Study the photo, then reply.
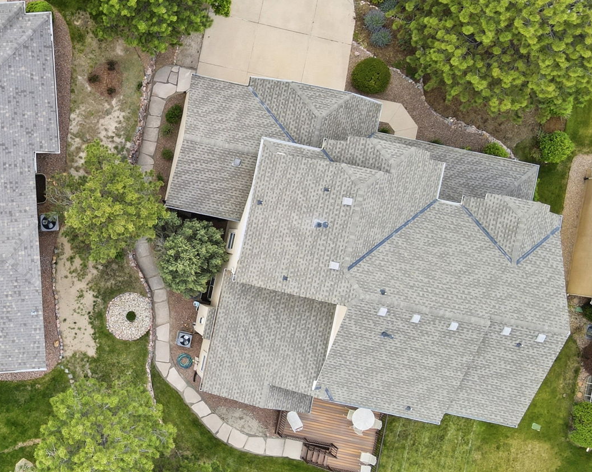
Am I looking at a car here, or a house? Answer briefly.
house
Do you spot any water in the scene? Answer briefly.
No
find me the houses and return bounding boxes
[0,0,62,375]
[566,175,592,297]
[156,72,571,429]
